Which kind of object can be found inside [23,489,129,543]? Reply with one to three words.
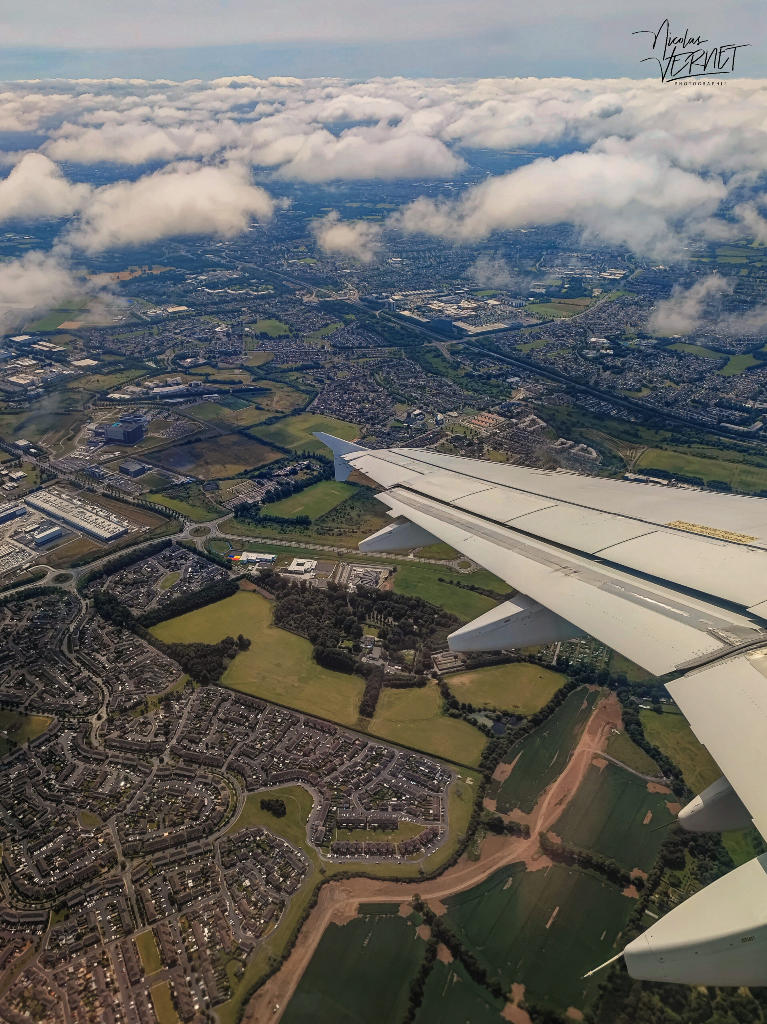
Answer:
building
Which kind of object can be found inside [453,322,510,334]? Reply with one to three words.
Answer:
building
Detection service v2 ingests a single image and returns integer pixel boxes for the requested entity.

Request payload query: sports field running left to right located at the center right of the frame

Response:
[638,451,767,491]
